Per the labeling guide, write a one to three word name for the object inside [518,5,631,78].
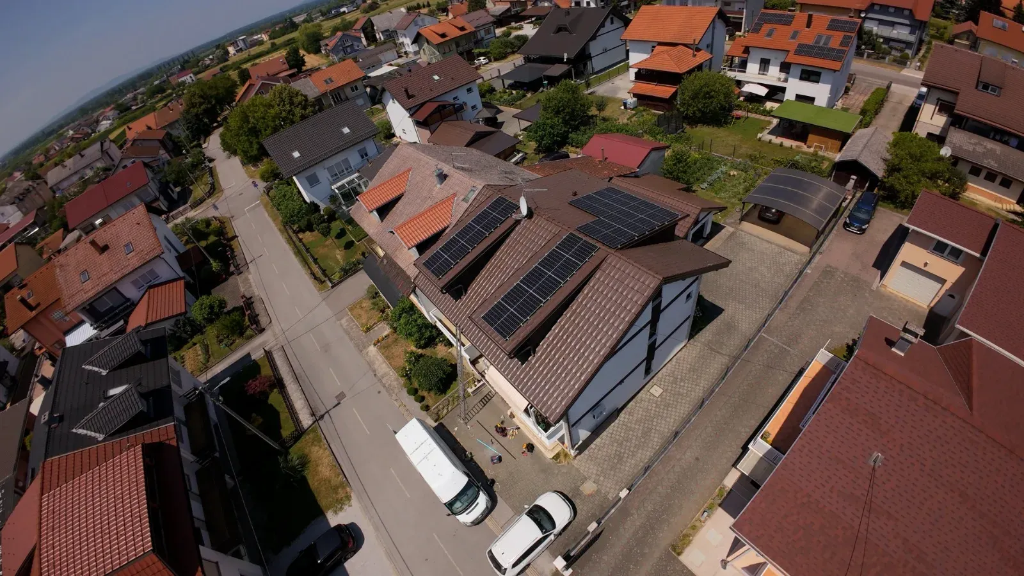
house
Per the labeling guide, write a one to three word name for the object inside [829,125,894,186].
building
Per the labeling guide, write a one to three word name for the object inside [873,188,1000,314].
house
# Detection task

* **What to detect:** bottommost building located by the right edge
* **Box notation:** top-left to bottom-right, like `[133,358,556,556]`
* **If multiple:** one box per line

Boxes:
[729,316,1024,576]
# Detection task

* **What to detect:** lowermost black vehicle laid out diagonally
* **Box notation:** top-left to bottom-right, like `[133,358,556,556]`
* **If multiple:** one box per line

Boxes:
[281,509,363,576]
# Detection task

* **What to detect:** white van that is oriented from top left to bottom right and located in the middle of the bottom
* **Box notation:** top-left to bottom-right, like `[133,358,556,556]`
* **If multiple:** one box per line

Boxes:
[393,415,492,529]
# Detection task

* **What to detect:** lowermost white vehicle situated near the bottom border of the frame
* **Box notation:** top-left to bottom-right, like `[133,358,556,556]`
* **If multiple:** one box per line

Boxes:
[489,490,579,576]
